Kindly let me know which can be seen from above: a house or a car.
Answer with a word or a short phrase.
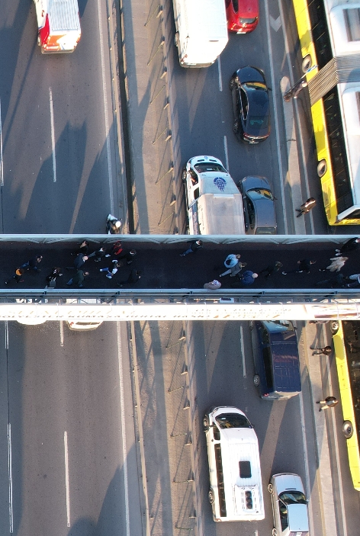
car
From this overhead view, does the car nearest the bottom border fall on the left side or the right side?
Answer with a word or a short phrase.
right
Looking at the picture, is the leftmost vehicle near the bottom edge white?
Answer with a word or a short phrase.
Yes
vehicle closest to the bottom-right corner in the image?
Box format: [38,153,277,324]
[269,475,314,536]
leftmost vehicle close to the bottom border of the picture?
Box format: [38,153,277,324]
[207,411,272,518]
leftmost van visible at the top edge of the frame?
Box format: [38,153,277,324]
[38,0,85,48]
